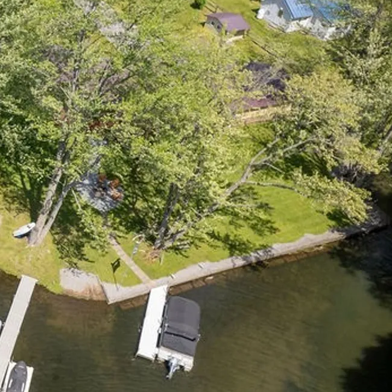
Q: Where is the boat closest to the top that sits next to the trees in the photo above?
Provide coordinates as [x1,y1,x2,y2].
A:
[12,220,36,237]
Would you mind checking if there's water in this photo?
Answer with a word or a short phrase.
Yes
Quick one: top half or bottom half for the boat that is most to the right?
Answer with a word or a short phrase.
bottom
